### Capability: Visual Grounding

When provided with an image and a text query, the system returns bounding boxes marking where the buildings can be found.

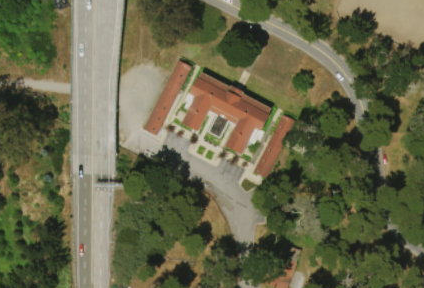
[146,61,192,134]
[267,250,302,288]
[254,114,293,177]
[183,72,272,153]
